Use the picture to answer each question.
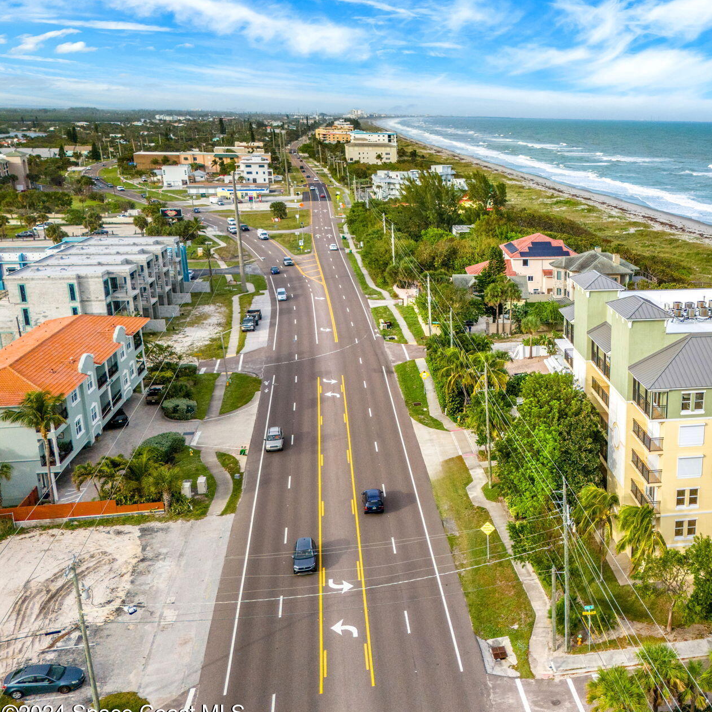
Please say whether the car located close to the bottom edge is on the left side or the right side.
left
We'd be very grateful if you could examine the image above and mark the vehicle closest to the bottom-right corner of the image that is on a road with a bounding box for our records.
[361,485,384,509]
